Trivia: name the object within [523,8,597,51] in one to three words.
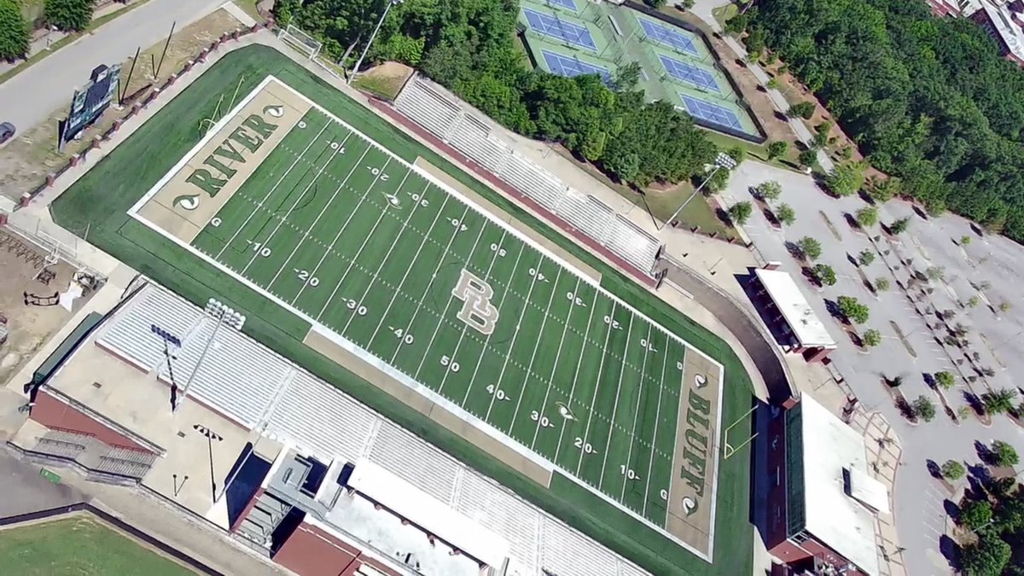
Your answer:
tennis court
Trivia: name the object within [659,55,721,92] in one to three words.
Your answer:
tennis court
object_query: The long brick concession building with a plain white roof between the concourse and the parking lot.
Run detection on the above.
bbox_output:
[745,270,836,357]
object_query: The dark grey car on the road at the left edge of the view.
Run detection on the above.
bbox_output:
[0,122,20,143]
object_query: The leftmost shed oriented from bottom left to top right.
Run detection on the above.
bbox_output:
[28,307,105,397]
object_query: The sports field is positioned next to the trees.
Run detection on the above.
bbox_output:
[51,47,756,576]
